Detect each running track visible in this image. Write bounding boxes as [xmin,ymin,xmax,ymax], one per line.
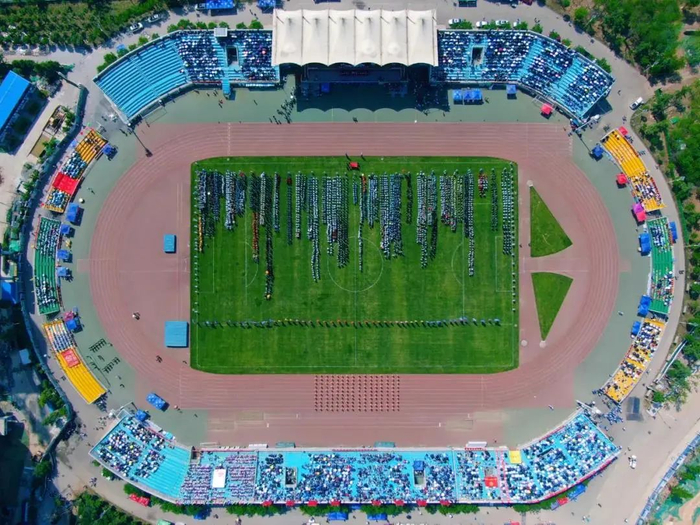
[77,123,631,446]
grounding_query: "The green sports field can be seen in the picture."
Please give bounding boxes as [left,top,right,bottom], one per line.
[191,157,518,375]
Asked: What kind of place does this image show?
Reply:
sports ground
